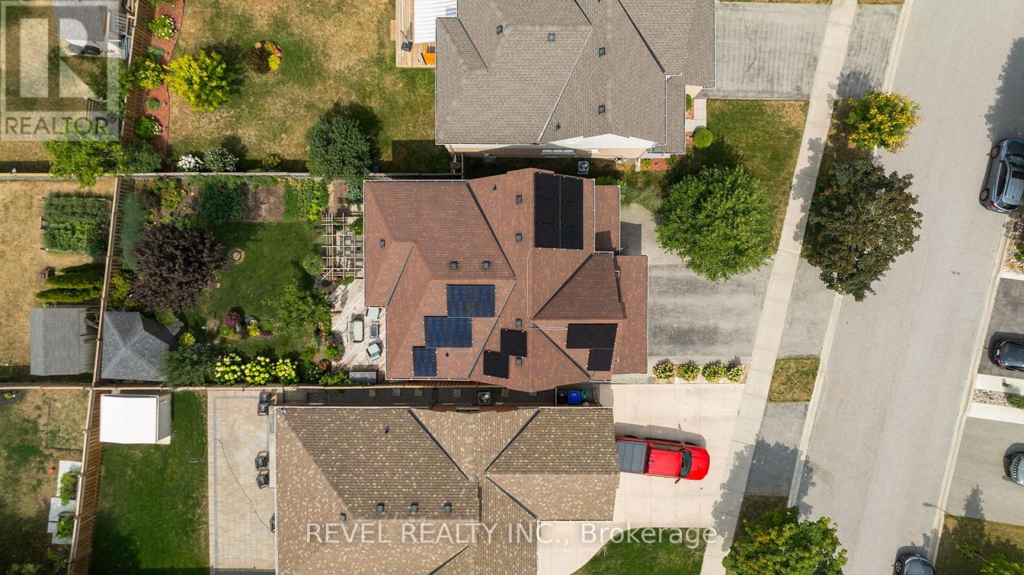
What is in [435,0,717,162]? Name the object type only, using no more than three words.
house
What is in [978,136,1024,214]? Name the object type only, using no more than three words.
car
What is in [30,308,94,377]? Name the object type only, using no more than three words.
shed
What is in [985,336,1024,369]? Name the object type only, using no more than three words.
car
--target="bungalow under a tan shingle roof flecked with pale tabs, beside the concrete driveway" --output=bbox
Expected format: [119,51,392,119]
[274,398,620,575]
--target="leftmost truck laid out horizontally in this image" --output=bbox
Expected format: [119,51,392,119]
[617,440,710,488]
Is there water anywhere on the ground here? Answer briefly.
No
